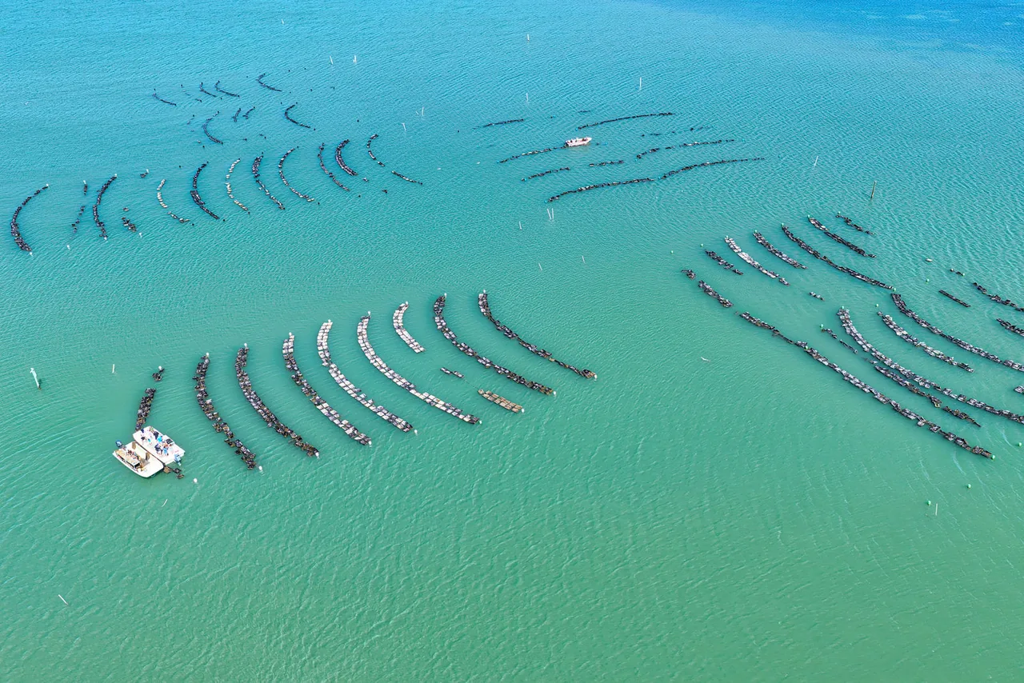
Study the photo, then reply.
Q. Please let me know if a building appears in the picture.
No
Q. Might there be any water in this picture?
Yes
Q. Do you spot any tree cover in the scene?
No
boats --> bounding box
[132,425,186,466]
[113,441,165,479]
[561,139,591,150]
